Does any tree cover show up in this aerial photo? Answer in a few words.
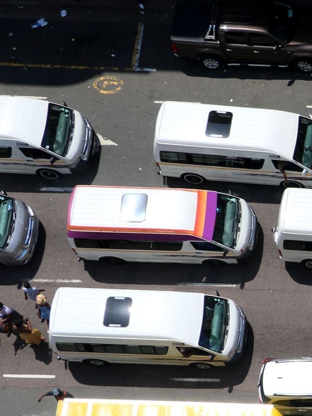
No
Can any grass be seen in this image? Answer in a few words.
No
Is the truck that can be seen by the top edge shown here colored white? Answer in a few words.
No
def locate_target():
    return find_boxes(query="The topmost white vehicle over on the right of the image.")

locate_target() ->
[151,102,312,189]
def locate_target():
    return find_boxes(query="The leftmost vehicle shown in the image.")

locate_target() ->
[0,190,42,268]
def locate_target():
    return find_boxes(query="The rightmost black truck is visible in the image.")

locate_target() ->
[173,0,312,72]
